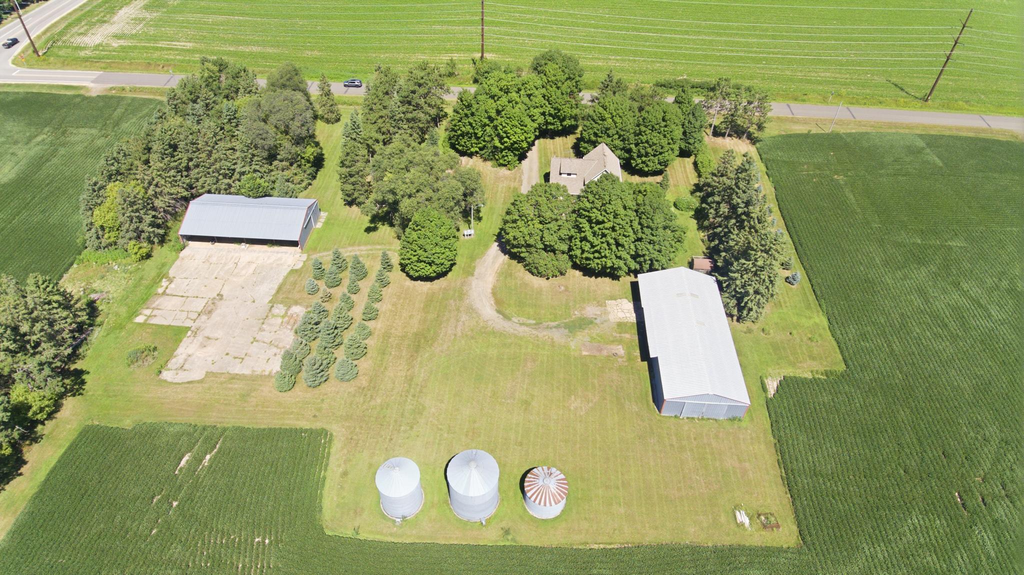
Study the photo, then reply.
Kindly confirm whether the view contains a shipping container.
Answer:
No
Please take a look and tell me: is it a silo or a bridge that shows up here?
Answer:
silo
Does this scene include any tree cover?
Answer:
Yes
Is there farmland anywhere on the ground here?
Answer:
Yes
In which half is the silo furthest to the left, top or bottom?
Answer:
bottom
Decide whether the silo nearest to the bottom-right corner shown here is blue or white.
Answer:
white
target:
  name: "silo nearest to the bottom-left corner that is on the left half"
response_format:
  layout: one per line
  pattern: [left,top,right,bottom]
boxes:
[378,457,427,524]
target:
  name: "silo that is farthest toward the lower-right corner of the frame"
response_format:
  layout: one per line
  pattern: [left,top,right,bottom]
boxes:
[522,467,568,519]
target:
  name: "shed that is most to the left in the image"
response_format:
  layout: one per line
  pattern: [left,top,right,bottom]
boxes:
[177,193,319,251]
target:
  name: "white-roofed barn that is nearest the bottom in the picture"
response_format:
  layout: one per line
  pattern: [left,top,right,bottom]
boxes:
[636,267,749,419]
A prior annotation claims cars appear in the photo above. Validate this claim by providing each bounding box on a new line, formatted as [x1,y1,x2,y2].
[0,38,18,48]
[343,80,362,89]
